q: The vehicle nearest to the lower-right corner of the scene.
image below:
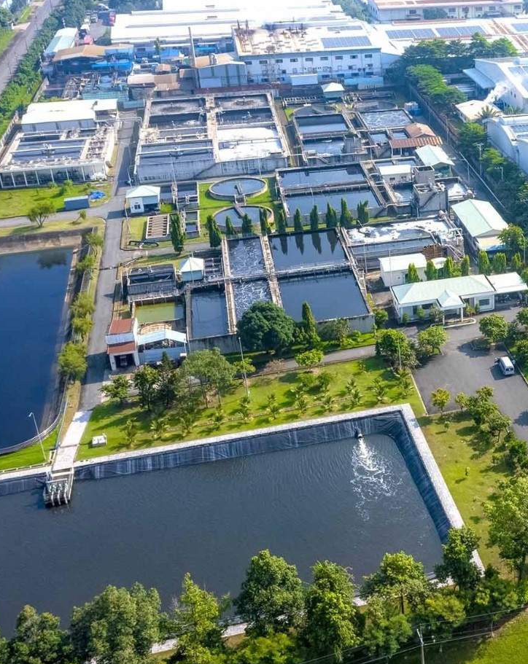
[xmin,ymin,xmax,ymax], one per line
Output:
[495,359,512,376]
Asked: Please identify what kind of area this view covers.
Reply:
industrial area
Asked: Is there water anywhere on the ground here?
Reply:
Yes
